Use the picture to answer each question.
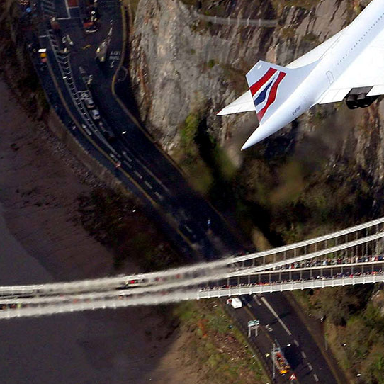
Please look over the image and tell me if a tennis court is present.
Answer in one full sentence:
No, no tennis court is visible in the view.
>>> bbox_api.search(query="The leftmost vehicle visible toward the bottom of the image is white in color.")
[227,295,245,309]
